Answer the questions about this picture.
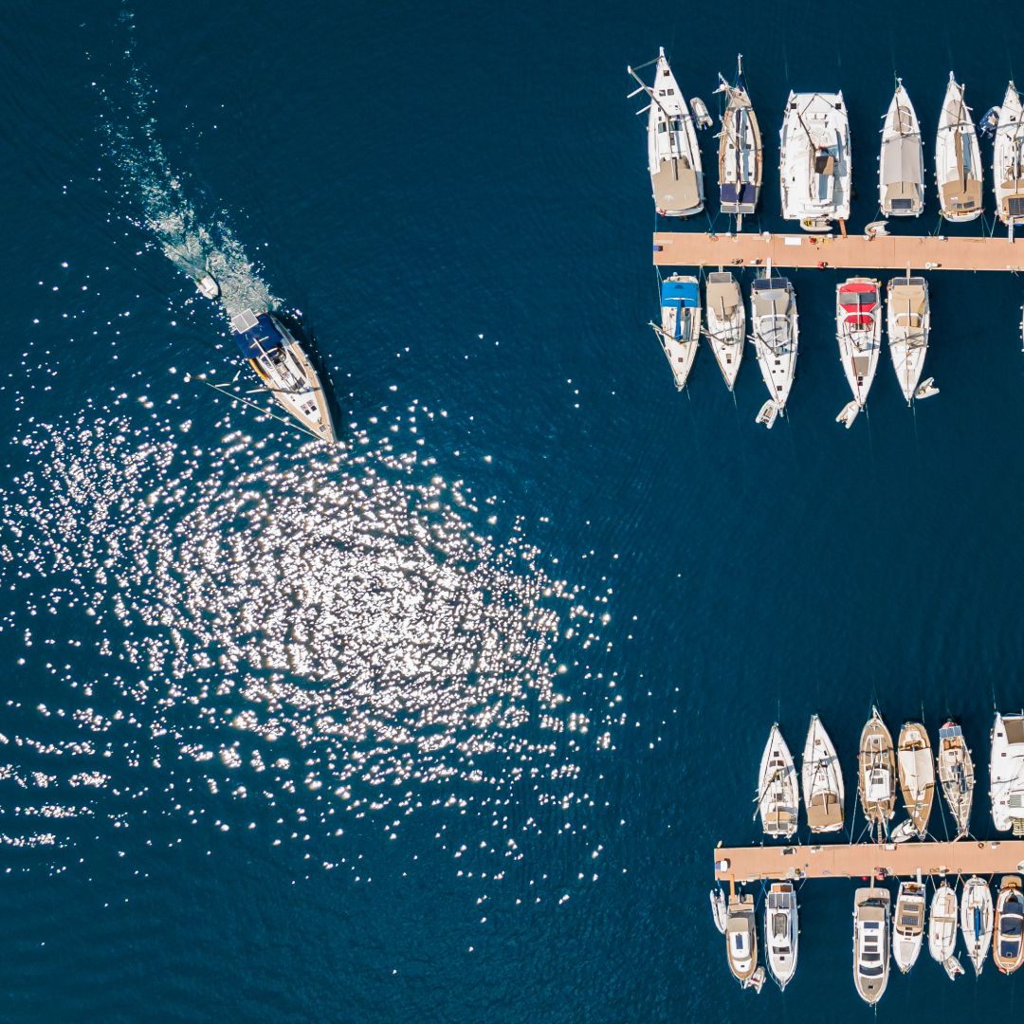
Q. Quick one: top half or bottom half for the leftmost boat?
top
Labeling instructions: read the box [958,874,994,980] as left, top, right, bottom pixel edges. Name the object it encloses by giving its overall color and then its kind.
white boat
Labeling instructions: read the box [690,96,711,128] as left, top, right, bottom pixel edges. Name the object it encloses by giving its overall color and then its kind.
white boat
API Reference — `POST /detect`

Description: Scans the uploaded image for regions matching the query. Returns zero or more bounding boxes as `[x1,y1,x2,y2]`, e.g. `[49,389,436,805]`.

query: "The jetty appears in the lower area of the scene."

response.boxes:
[713,840,1024,880]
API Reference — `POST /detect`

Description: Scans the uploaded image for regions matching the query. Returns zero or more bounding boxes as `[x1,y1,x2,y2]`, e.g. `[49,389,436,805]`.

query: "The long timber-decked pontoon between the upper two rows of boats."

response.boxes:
[652,233,1024,272]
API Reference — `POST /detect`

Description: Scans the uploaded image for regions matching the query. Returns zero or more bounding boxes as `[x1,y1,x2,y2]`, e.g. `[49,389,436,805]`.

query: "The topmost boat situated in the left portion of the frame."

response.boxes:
[195,274,217,298]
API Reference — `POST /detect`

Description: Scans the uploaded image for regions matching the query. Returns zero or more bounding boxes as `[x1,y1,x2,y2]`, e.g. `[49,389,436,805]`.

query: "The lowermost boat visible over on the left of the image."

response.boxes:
[195,305,339,448]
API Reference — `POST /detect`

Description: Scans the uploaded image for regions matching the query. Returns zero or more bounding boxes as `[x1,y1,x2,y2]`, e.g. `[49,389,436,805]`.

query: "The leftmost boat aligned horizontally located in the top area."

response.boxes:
[800,219,834,232]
